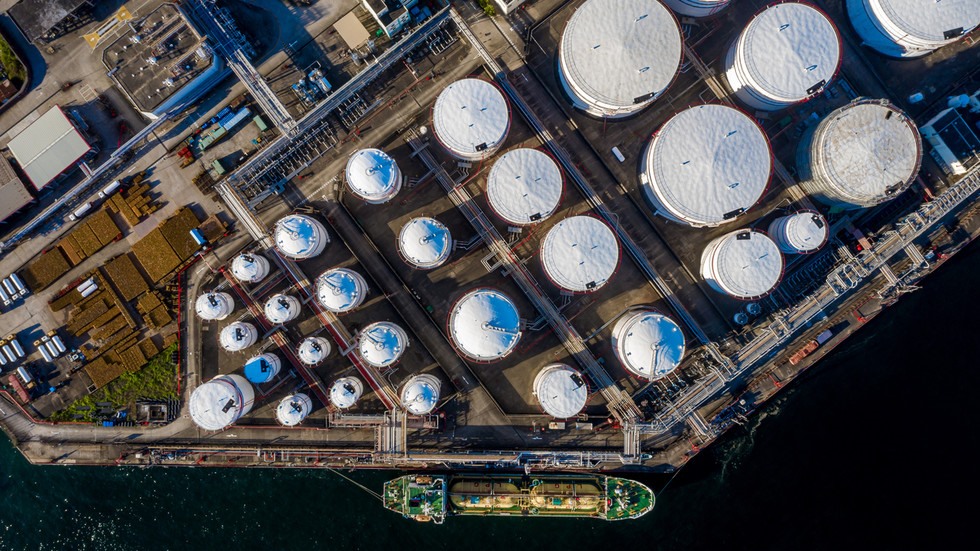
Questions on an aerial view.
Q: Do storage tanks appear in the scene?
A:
Yes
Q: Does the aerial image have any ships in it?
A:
Yes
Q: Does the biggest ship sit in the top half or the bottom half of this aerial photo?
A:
bottom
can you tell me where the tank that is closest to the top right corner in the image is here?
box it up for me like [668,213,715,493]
[843,0,980,64]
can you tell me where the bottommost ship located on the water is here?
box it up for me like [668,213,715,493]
[382,474,657,523]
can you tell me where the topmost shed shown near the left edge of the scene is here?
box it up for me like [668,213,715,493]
[6,0,97,47]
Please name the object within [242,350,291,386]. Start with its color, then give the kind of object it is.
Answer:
blue storage tank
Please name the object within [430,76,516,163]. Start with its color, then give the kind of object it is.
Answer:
white storage tank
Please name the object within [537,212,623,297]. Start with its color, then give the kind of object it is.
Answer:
white storage tank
